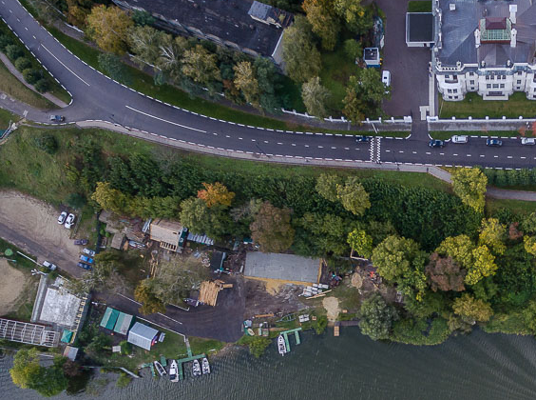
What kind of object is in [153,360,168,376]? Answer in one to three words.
boat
